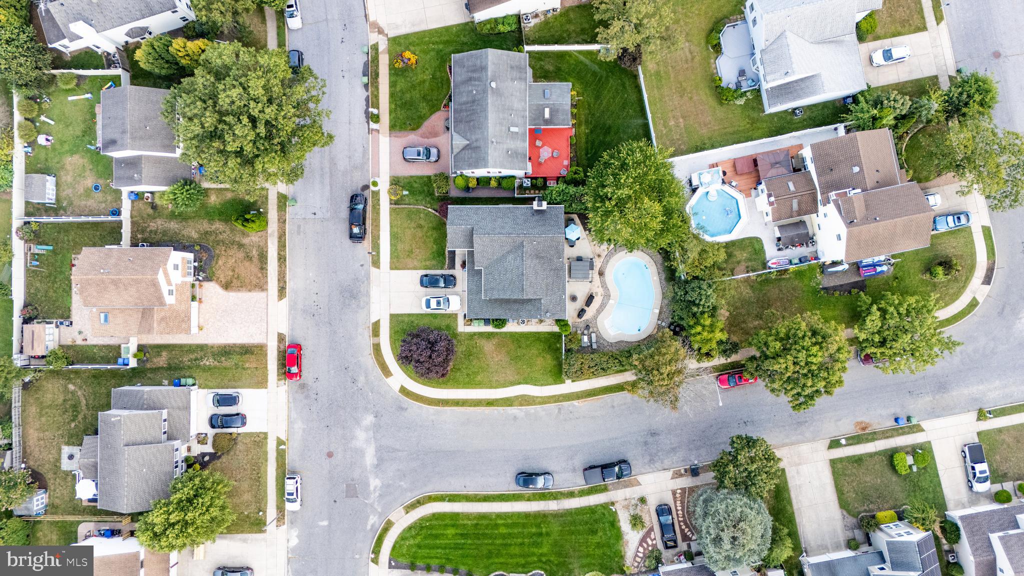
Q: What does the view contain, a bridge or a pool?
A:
pool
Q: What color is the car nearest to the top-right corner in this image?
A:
white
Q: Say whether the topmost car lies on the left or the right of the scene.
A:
left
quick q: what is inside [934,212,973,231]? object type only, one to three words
car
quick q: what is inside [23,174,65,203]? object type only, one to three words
shed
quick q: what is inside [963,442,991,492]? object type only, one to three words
truck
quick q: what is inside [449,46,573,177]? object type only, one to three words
house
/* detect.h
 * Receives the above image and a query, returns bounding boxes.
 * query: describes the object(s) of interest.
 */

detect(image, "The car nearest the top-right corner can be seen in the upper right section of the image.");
[870,45,912,67]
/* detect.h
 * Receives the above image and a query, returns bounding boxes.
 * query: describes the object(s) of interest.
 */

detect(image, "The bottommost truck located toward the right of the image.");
[656,503,679,551]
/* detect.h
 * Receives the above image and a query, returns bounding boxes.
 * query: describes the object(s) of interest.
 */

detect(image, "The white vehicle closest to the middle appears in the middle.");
[421,294,461,312]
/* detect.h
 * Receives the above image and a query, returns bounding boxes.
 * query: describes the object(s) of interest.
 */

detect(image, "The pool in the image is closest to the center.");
[597,251,662,342]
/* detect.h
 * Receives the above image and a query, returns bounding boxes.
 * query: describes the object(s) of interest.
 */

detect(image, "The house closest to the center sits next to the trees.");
[445,199,568,319]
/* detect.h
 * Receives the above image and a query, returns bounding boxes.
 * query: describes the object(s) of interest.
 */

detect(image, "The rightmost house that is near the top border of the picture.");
[738,0,883,114]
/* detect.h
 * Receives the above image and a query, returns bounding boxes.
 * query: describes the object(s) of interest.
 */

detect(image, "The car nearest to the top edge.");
[284,0,304,31]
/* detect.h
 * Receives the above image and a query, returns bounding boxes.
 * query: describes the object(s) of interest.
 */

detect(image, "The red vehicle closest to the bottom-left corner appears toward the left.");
[284,344,303,381]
